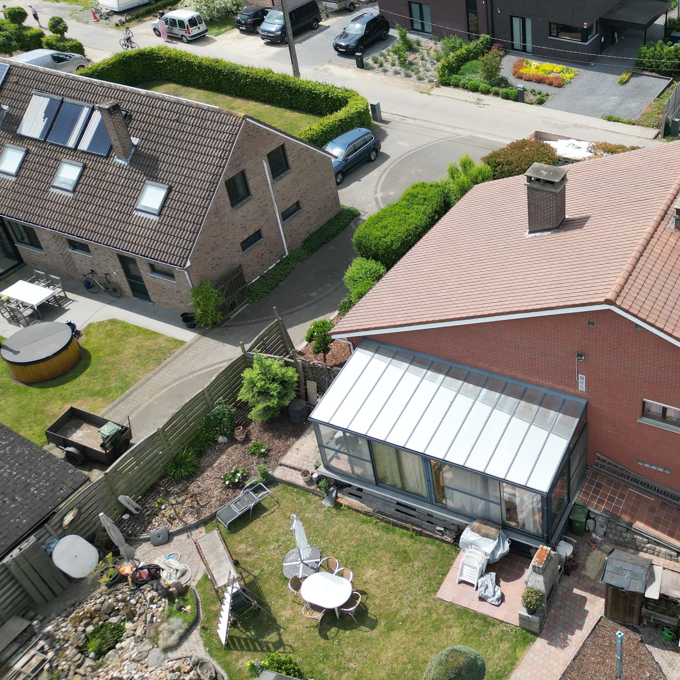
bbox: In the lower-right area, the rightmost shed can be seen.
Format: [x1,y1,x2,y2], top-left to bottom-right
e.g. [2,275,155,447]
[601,548,654,624]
